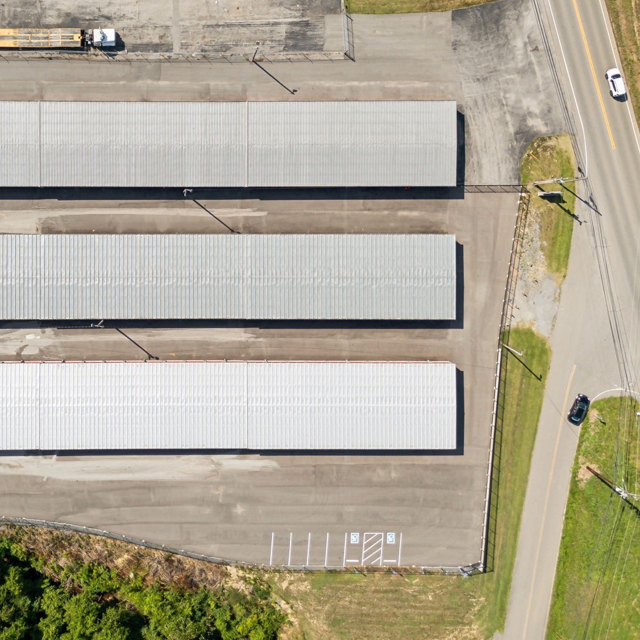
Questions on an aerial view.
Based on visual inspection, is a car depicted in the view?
Yes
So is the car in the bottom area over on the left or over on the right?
right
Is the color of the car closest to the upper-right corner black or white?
white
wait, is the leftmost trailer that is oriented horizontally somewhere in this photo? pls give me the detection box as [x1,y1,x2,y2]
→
[0,28,94,48]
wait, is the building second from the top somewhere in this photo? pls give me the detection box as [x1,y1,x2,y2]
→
[0,233,457,321]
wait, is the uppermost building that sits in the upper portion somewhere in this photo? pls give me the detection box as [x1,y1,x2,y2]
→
[0,99,457,189]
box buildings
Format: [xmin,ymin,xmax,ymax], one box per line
[0,99,457,189]
[0,359,457,451]
[0,233,457,321]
